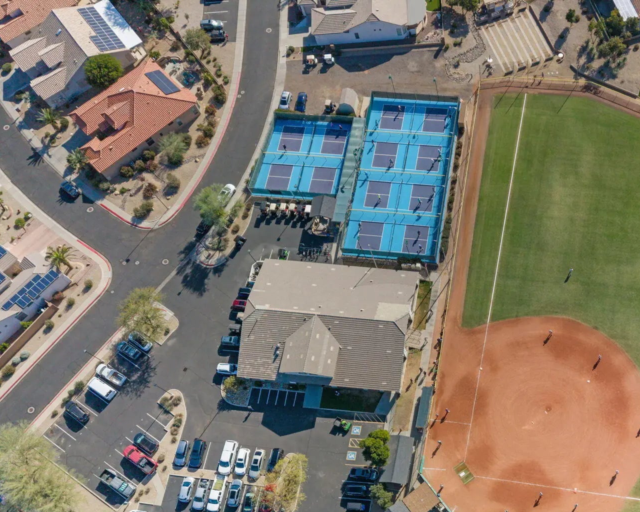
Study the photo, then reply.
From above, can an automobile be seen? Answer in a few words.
Yes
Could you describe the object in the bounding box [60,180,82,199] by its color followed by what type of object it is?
blue car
